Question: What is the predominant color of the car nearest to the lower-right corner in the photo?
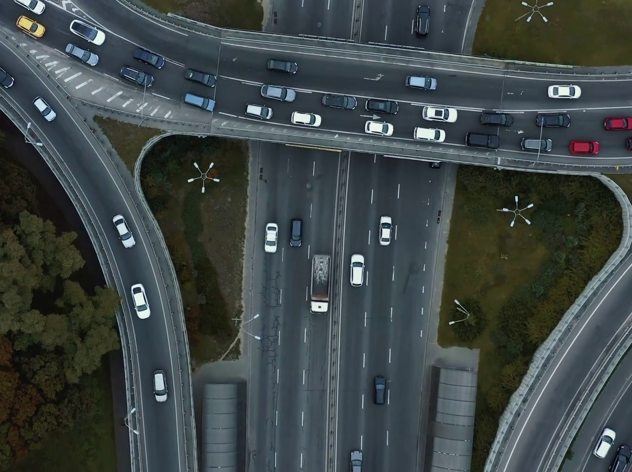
black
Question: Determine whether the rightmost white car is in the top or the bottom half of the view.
bottom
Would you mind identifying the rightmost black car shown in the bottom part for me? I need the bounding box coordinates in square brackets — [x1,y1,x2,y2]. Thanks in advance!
[608,445,631,472]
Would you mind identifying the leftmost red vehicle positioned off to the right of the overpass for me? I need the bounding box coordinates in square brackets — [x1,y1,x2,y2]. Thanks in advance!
[569,140,600,155]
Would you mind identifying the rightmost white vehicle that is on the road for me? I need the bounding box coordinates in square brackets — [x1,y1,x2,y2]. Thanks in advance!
[593,428,615,458]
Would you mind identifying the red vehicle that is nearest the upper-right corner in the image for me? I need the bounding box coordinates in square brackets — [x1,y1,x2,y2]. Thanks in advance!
[605,116,632,131]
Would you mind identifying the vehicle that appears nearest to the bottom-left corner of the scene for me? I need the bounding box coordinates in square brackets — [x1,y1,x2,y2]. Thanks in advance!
[153,370,169,402]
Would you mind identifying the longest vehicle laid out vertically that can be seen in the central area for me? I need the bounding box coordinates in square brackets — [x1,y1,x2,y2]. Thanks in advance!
[308,254,331,313]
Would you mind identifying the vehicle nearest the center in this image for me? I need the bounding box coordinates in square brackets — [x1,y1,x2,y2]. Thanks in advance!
[288,218,304,248]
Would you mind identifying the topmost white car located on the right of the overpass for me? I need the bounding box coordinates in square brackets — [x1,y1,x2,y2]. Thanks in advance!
[548,84,581,99]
